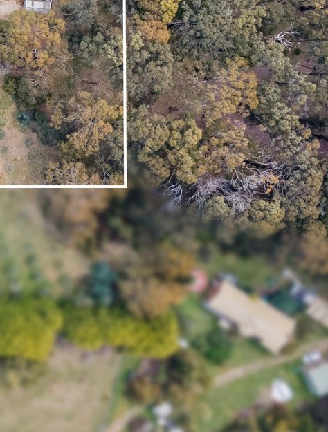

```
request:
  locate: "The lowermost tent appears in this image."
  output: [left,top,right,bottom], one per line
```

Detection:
[271,380,291,402]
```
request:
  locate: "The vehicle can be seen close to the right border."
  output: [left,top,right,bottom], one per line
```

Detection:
[300,350,320,363]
